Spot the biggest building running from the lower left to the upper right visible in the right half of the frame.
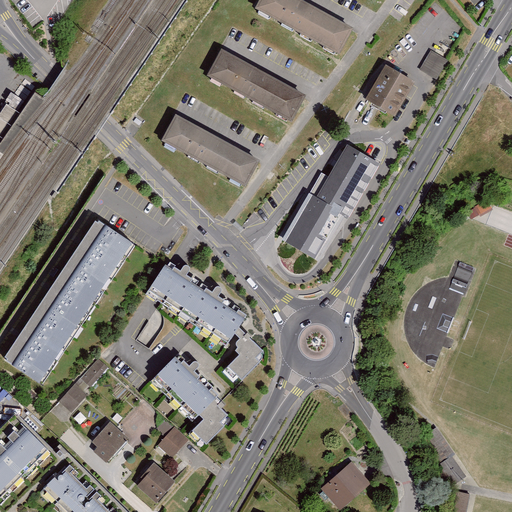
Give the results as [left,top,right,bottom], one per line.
[282,145,380,262]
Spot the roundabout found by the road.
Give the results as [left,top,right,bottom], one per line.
[280,306,352,378]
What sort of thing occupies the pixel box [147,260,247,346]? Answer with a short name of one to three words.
building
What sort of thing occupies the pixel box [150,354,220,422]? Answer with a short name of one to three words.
building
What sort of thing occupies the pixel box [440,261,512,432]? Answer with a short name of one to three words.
soccer field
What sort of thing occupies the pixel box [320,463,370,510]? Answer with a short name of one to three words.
house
